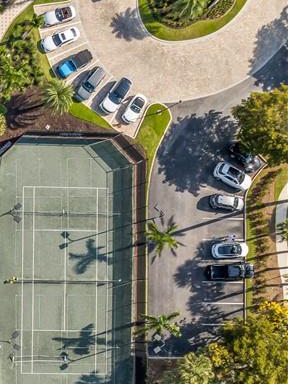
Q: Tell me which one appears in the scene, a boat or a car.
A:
car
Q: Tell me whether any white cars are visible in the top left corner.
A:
Yes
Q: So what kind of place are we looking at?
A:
sports ground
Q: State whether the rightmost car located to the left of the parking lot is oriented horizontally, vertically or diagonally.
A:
diagonally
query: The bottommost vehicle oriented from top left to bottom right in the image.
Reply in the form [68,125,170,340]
[209,160,253,193]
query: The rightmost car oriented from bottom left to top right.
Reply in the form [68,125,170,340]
[118,93,148,126]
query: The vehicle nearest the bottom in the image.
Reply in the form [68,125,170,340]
[203,262,254,281]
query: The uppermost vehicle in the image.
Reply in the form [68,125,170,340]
[40,5,78,30]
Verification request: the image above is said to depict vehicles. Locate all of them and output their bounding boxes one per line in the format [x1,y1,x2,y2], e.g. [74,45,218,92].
[209,160,253,193]
[203,262,254,281]
[71,64,110,104]
[208,240,247,258]
[95,74,135,116]
[207,192,244,211]
[38,26,82,54]
[118,93,148,126]
[53,47,97,81]
[40,5,78,30]
[224,141,267,175]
